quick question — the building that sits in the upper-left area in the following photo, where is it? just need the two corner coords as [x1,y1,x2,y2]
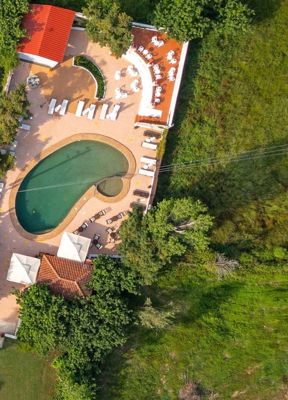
[14,4,76,65]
